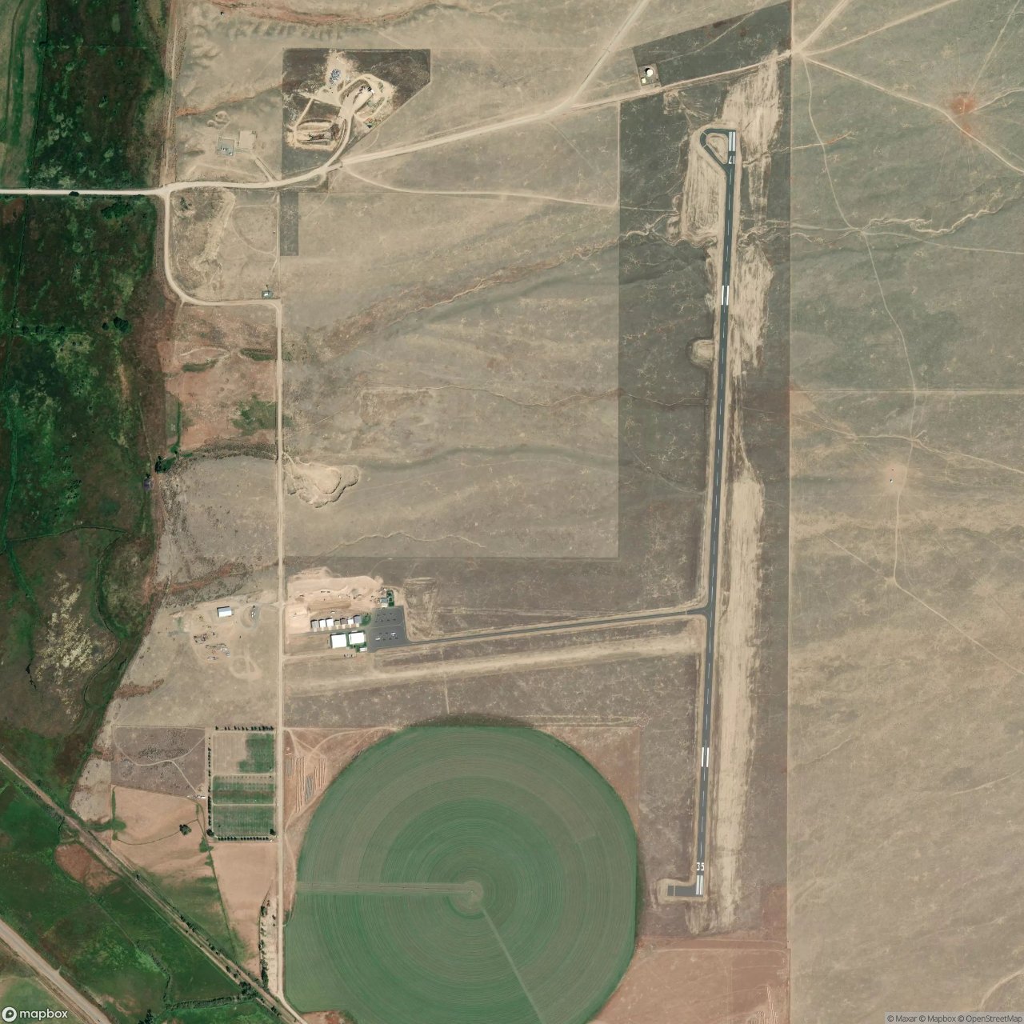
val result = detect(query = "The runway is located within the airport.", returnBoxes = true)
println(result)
[696,130,736,897]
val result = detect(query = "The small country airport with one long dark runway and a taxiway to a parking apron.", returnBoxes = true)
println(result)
[367,129,736,897]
